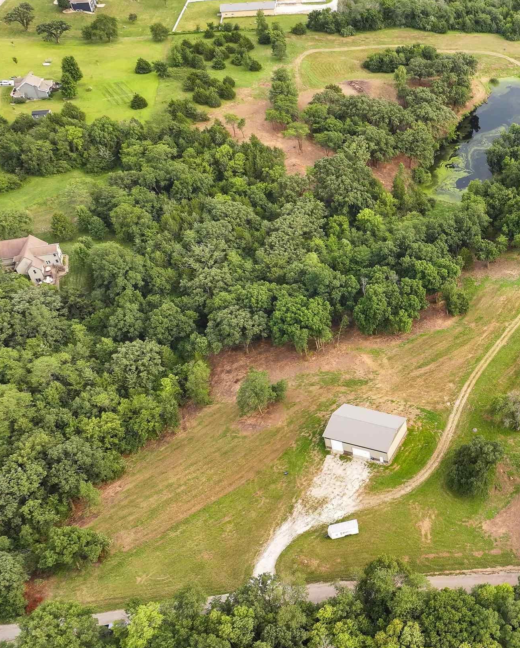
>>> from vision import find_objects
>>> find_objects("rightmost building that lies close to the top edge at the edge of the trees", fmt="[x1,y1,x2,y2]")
[219,0,277,17]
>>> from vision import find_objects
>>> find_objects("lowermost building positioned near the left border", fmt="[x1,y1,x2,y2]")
[0,230,71,286]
